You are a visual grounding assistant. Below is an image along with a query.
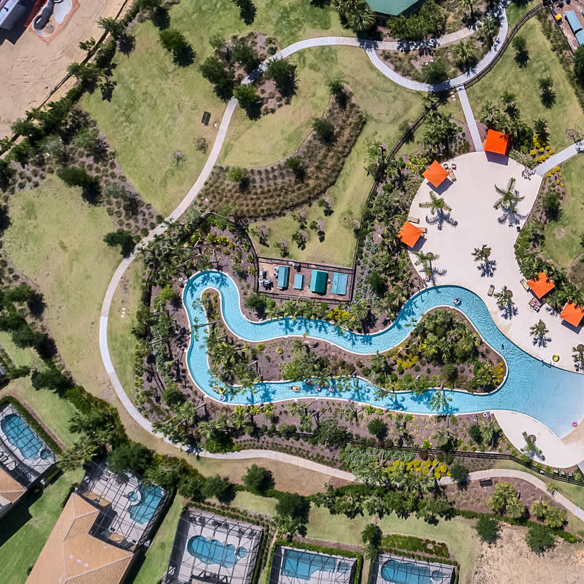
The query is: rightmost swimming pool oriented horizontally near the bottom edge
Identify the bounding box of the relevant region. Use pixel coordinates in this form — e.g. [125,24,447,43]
[379,560,433,584]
